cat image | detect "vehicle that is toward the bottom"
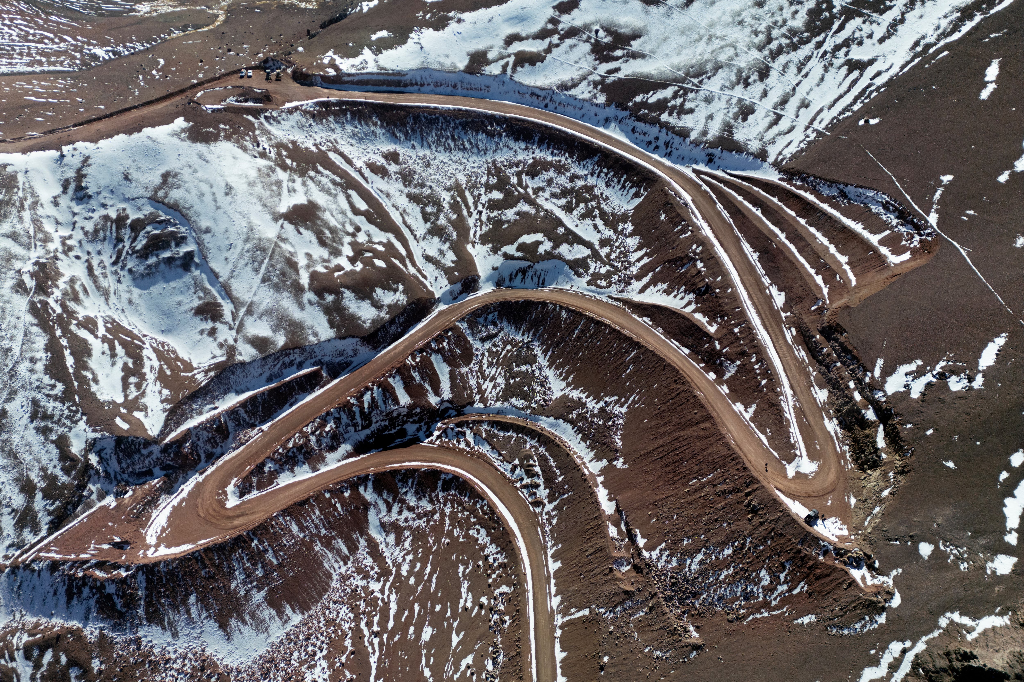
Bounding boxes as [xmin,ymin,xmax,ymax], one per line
[802,508,821,523]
